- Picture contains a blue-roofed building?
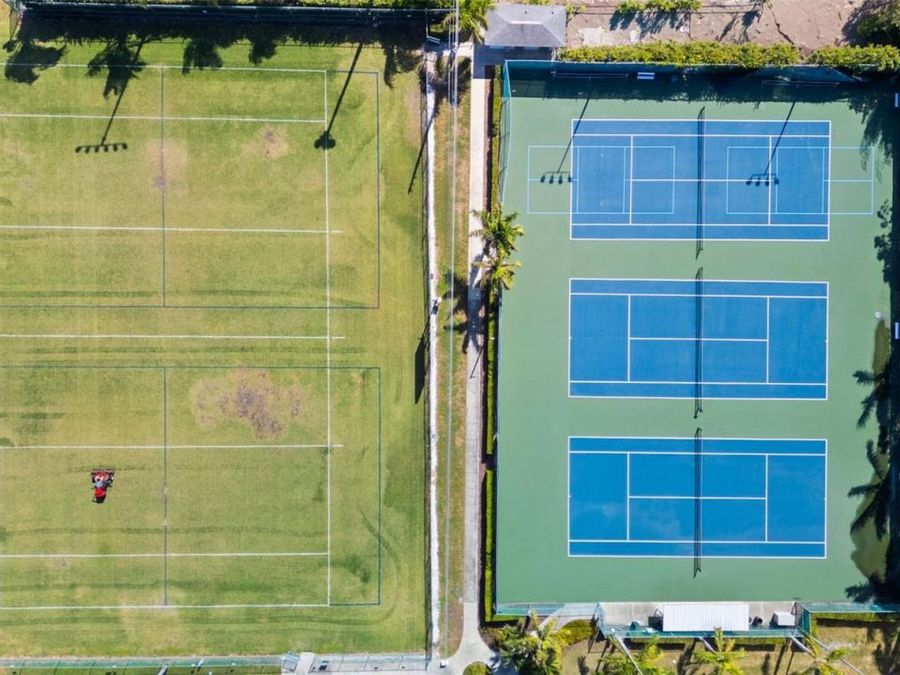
No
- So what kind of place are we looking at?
sports ground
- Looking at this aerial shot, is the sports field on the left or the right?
left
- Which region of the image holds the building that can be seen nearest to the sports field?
top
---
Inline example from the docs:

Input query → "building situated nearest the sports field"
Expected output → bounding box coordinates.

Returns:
[484,4,566,52]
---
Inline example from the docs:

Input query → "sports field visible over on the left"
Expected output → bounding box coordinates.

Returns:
[0,22,427,657]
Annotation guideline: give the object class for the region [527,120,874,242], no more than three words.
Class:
tennis court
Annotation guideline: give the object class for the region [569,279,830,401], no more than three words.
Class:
tennis court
